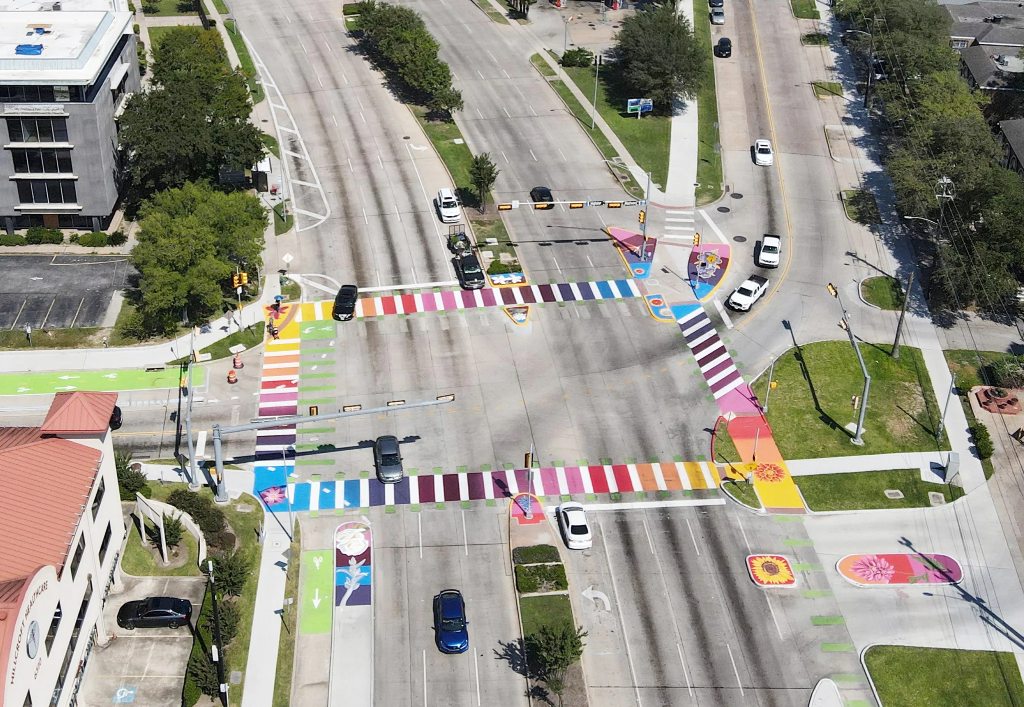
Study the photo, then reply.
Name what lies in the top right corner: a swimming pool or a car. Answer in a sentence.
The one visible in the top right corner is a car.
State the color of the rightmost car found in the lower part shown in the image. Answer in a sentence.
The rightmost car found in the lower part looks white in the image.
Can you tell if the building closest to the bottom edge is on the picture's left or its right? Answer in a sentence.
The building closest to the bottom edge is on the left side of the image.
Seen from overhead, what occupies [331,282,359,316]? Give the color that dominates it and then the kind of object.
black car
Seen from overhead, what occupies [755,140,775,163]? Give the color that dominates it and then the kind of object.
white car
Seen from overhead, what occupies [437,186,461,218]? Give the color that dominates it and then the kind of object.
white car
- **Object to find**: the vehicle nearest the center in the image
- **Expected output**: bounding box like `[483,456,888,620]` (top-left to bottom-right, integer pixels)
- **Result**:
[456,247,484,284]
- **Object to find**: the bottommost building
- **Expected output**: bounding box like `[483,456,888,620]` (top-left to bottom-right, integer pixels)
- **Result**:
[0,389,130,707]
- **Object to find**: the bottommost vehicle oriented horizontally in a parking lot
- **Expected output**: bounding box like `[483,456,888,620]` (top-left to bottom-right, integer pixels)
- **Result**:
[118,593,195,628]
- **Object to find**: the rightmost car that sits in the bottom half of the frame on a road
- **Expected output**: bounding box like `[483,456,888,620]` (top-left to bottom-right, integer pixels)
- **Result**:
[556,493,594,545]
